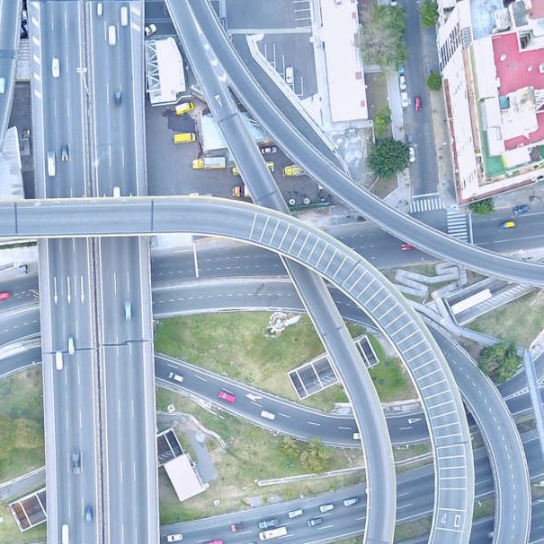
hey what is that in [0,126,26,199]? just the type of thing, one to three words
shed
